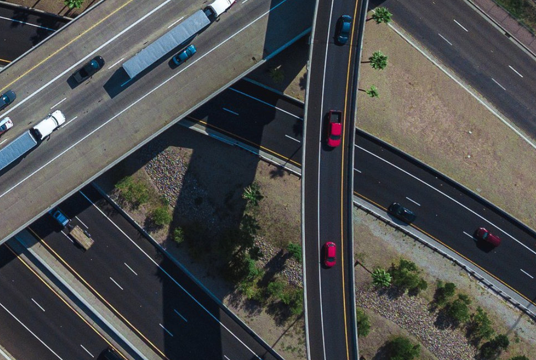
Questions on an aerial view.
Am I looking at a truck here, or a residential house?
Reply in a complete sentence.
I can see a truck in this picture.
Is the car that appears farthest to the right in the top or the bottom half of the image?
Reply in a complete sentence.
It is in the bottom half that the car that appears farthest to the right appears.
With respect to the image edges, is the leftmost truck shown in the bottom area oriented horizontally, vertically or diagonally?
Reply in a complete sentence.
Seen from above, the leftmost truck shown in the bottom area lies diagonally.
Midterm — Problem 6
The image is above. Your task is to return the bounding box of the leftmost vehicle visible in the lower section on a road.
[47,206,91,247]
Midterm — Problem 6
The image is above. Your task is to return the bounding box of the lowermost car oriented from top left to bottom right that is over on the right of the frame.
[474,227,500,247]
